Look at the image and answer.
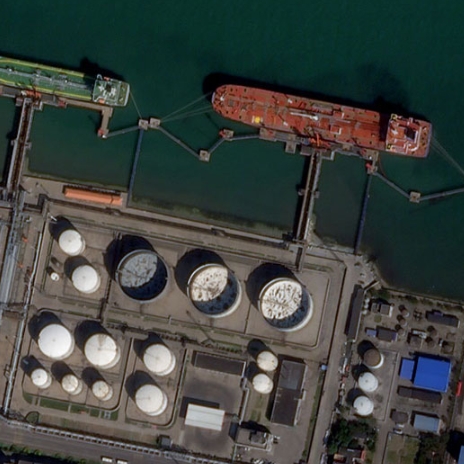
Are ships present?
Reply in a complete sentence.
Yes, a ship appears in the view.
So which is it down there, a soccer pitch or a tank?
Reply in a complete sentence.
The image shows a tank.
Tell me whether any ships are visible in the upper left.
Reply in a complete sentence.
Yes, in the upper left there is a ship.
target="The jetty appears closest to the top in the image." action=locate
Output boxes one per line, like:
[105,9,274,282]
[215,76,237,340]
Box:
[0,86,113,135]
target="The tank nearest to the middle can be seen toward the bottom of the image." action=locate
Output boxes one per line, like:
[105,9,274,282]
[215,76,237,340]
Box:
[187,263,242,317]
